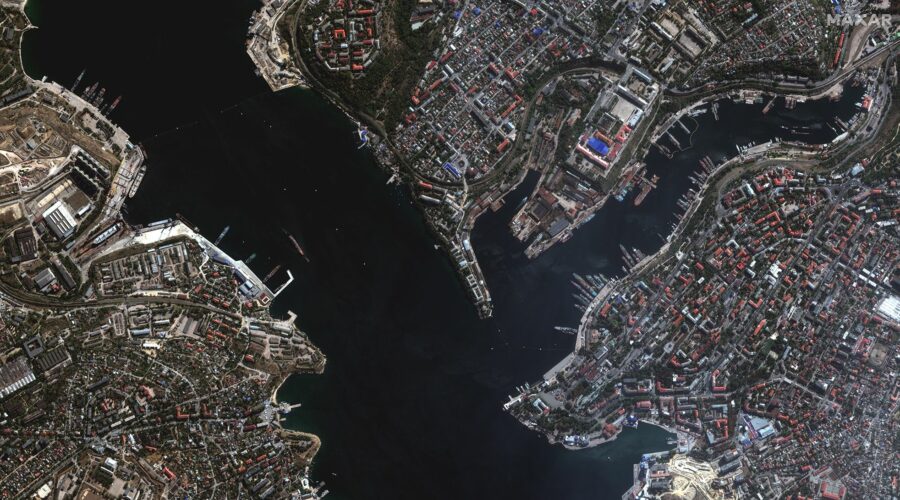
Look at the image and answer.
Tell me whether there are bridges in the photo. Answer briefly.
No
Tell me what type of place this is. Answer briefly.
port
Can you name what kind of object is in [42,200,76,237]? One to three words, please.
building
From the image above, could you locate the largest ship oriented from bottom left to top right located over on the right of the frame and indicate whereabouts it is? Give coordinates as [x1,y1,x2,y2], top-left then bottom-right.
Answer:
[635,184,652,203]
